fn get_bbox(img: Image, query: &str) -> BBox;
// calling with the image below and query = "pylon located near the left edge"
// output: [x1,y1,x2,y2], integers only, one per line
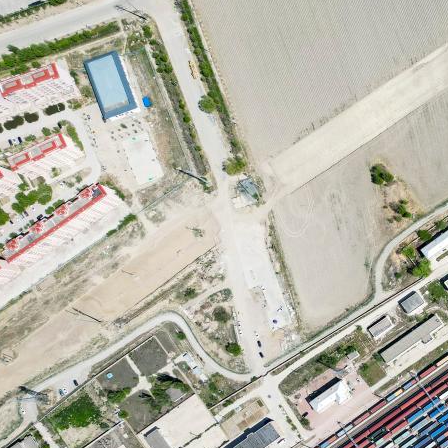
[18,393,47,408]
